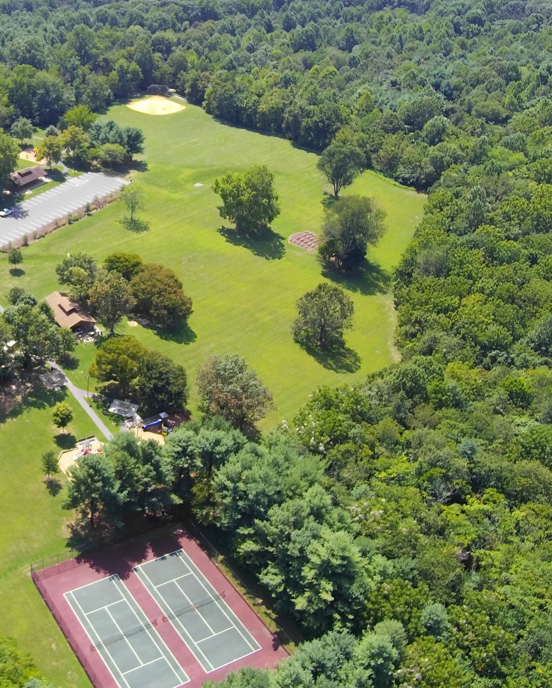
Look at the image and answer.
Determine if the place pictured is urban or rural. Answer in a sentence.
The area is rural.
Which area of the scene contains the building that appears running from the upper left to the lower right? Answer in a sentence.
The building that appears running from the upper left to the lower right is located in the left region of the scene.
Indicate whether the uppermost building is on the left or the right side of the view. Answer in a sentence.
The uppermost building sits on the left side.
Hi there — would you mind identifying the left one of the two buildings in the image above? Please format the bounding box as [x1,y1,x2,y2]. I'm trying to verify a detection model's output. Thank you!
[8,165,53,191]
